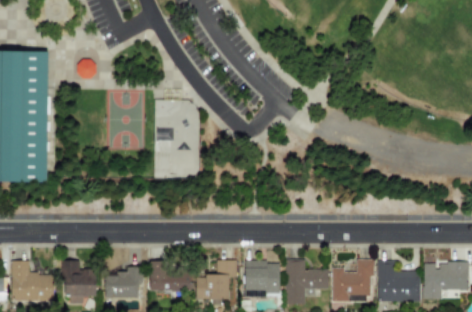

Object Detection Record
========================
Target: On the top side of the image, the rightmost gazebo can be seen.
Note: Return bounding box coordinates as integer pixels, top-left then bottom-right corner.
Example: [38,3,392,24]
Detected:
[75,57,98,80]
